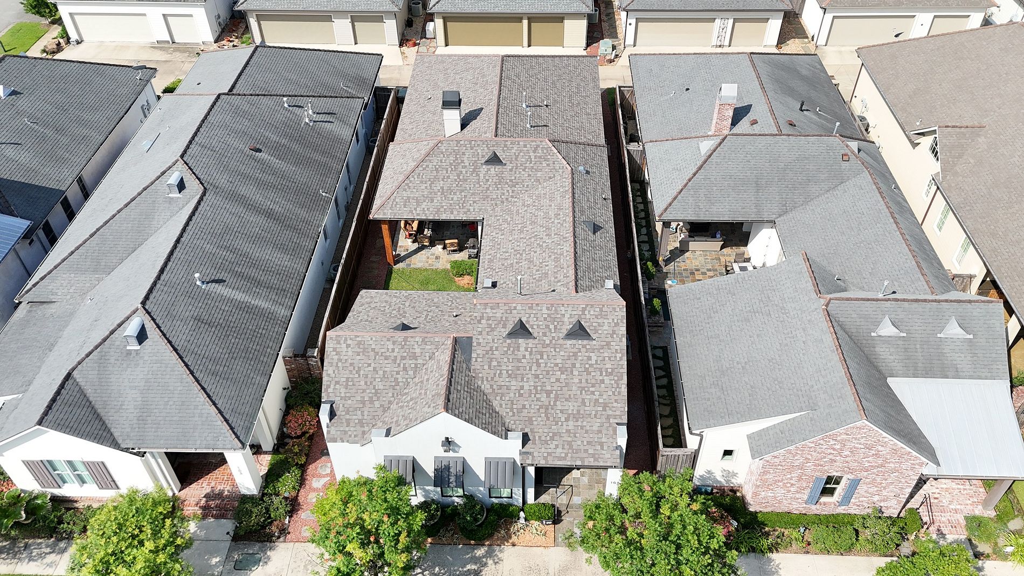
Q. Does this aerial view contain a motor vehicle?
No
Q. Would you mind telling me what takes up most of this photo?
buildings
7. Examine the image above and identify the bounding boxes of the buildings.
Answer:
[0,45,383,518]
[46,0,239,43]
[319,54,630,523]
[241,0,410,45]
[426,0,596,47]
[797,0,1001,46]
[628,51,1024,533]
[620,0,794,48]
